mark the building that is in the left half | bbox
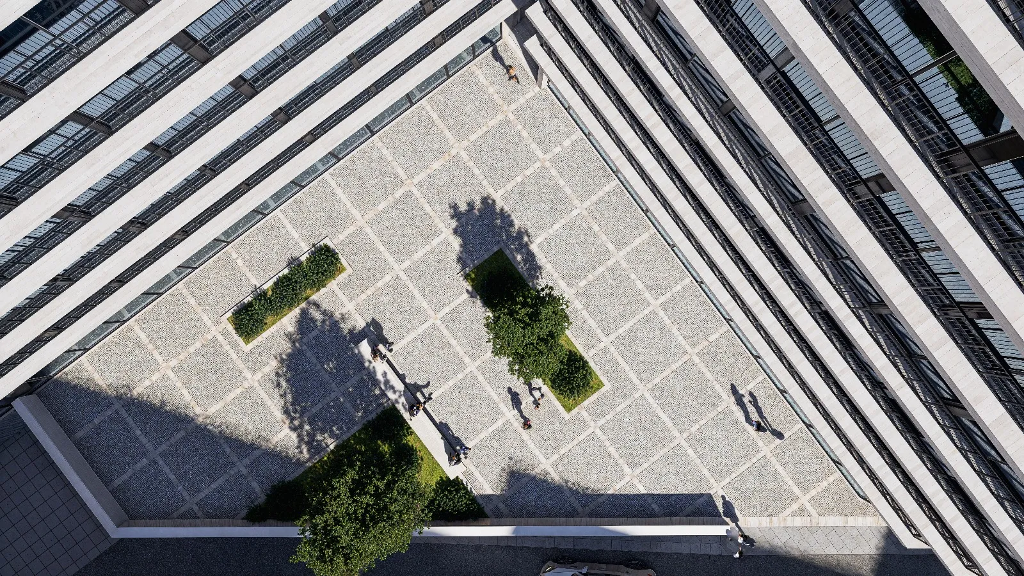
[0,0,518,417]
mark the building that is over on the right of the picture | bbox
[523,0,1024,576]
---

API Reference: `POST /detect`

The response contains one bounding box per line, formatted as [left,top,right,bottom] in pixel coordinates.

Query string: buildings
[0,0,518,417]
[523,0,1024,576]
